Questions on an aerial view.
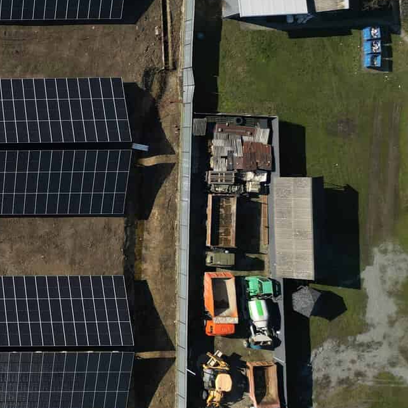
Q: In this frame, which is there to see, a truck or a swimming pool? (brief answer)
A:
truck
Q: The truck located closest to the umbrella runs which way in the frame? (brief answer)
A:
up and down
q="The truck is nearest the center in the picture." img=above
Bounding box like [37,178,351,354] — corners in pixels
[203,193,240,268]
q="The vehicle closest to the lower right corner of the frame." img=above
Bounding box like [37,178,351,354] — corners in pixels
[241,358,283,408]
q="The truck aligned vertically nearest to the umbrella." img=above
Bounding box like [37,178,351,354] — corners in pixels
[239,271,278,345]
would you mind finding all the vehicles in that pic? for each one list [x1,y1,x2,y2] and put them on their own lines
[200,271,239,337]
[200,350,237,408]
[239,271,278,345]
[203,193,240,268]
[241,358,283,408]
